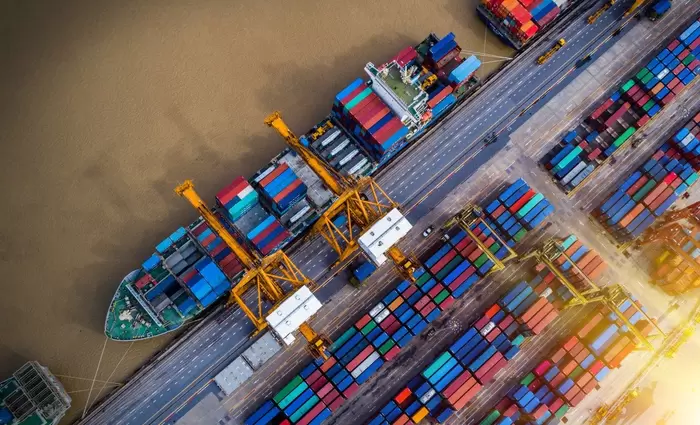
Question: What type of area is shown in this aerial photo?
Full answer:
The area seen from above is a port.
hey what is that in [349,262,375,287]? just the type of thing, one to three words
truck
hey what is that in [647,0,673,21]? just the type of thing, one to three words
truck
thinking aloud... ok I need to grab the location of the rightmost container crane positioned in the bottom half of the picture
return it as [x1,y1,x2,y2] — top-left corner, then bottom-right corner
[632,218,700,301]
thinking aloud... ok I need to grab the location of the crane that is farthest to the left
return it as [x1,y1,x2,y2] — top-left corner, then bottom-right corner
[177,182,336,361]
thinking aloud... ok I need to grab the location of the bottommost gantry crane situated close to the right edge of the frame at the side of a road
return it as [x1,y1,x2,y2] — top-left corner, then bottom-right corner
[581,279,669,357]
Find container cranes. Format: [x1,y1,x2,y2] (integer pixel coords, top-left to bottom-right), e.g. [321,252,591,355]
[177,182,336,361]
[517,233,602,314]
[581,279,669,357]
[441,201,517,279]
[632,218,700,301]
[262,116,420,287]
